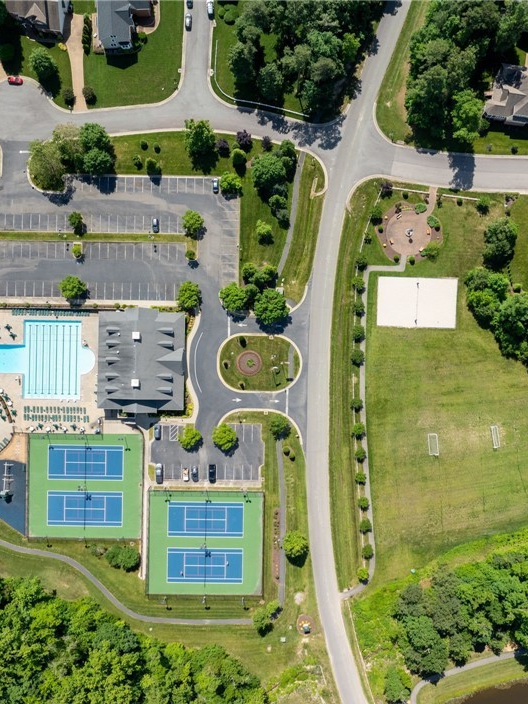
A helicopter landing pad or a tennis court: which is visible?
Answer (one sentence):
The one in the frame is a tennis court.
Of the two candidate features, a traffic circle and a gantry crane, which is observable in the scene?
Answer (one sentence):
This aerial view contains a traffic circle.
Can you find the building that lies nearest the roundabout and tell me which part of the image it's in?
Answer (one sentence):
Look in the left portion of the view to spot the building that lies nearest the roundabout.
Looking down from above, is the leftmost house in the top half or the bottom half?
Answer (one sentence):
The top half of the photo is where the leftmost house is.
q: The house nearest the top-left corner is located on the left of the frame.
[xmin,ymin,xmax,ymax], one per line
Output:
[5,0,65,40]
